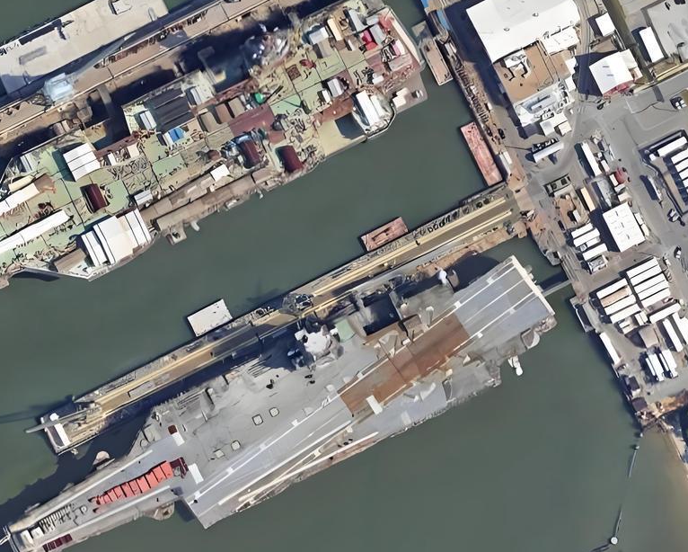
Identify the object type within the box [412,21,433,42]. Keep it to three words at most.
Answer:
ship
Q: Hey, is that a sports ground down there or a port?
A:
port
